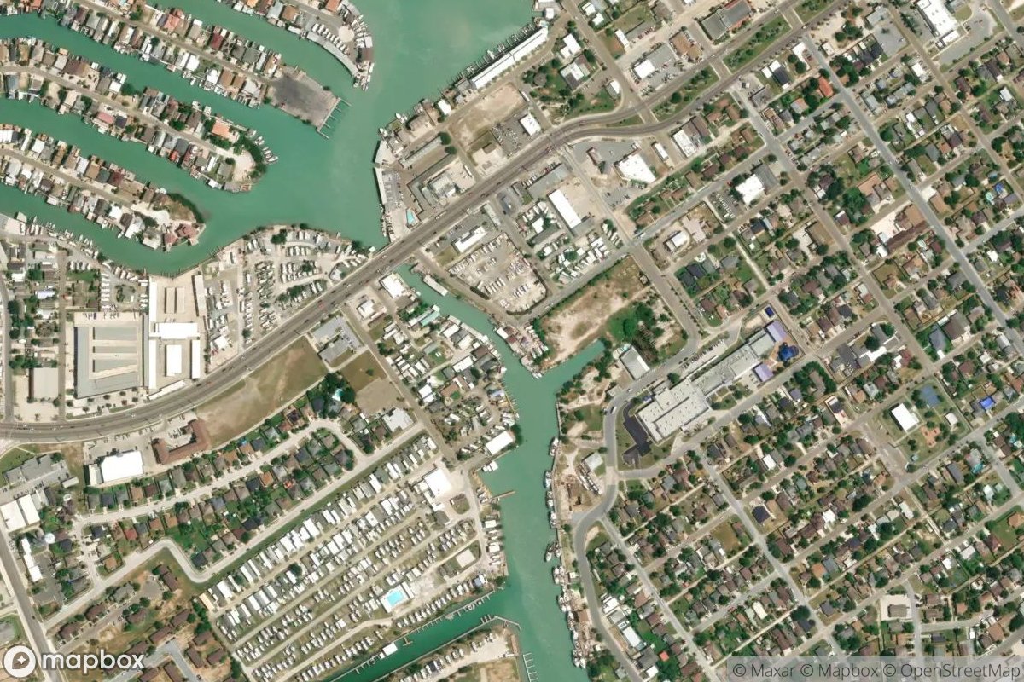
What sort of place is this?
residential area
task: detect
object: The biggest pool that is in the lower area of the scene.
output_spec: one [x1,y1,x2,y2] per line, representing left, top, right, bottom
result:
[381,585,408,613]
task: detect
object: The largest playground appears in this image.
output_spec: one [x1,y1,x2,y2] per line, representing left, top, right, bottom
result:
[772,338,805,365]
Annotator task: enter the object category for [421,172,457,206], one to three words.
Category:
building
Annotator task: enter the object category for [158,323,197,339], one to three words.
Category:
shed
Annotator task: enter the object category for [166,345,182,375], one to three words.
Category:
shed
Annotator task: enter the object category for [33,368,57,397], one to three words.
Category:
building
